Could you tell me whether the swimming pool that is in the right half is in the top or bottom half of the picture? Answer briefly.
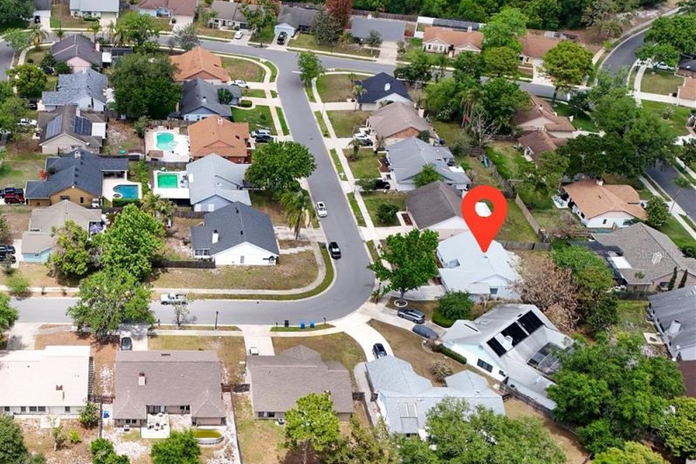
bottom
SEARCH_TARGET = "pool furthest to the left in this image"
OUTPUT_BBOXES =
[104,180,143,203]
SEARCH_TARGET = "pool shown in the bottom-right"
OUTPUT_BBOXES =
[527,343,568,375]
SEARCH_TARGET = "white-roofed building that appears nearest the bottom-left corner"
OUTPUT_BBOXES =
[0,337,91,415]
